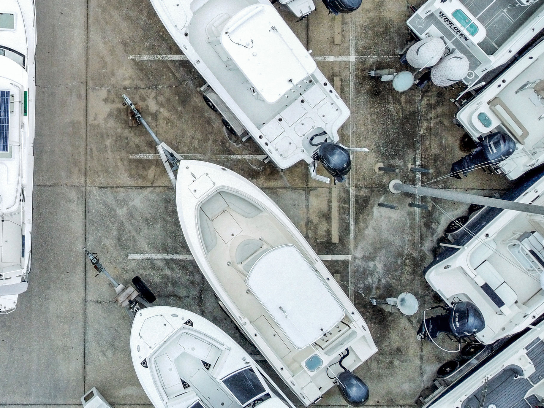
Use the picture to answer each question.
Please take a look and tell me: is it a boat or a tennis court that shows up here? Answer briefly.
boat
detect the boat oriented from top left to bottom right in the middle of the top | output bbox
[157,0,369,182]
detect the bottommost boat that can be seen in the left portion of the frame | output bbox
[132,301,297,408]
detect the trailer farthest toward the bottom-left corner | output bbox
[89,241,161,321]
